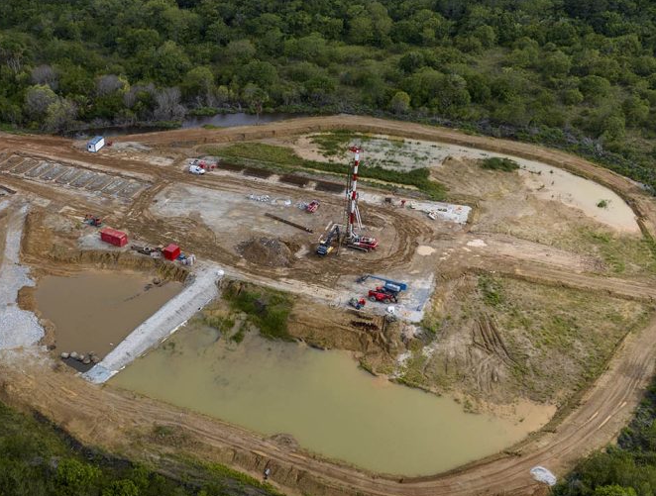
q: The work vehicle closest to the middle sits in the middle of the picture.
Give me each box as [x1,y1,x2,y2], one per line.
[314,227,345,258]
